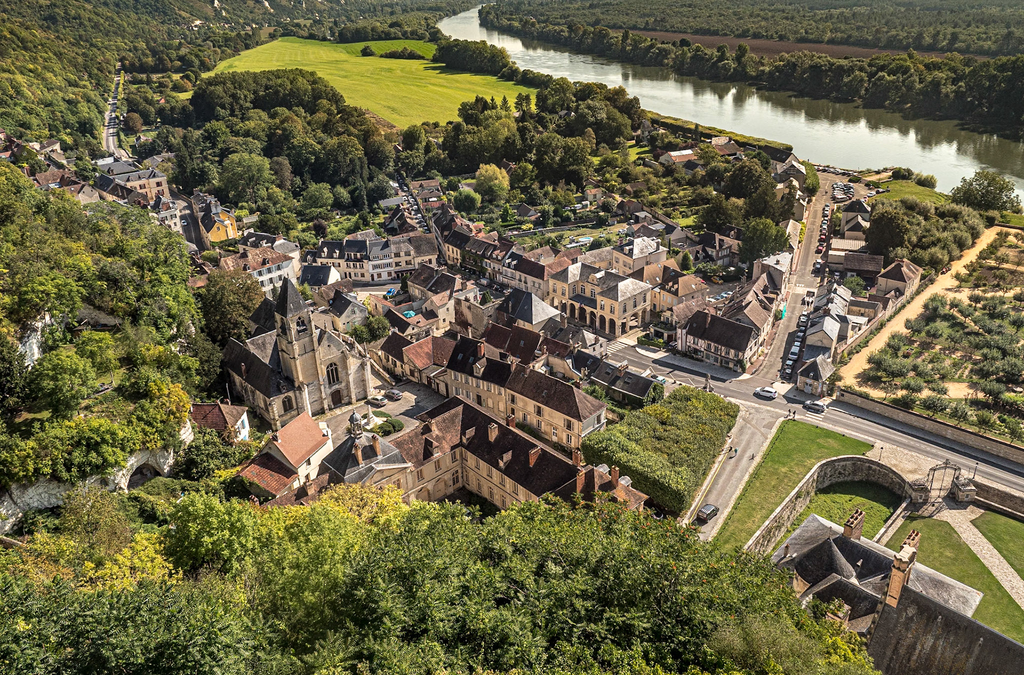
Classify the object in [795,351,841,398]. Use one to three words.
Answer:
building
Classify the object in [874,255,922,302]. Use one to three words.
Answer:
house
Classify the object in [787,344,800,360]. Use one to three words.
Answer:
vehicle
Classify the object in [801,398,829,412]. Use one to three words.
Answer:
car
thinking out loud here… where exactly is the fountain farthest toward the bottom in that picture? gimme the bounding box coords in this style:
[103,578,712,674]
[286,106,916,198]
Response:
[699,370,717,392]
